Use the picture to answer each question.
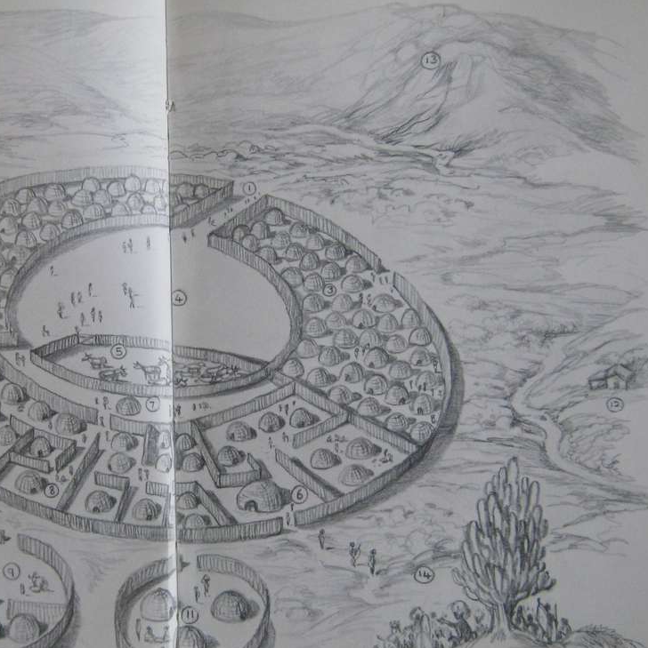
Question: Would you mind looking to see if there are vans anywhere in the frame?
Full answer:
No, there appears to be no van in this shot.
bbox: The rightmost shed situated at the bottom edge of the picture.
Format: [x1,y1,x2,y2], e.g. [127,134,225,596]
[211,587,249,624]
